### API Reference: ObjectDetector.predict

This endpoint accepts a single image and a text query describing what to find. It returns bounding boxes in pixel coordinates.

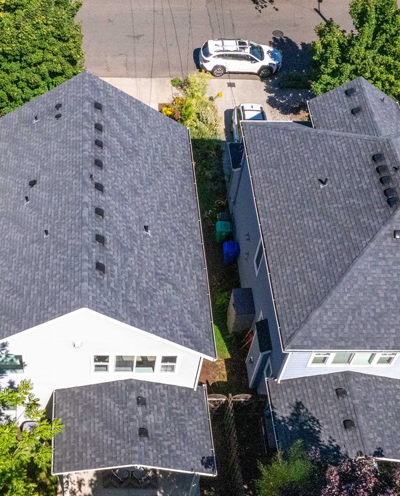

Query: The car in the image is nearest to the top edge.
[200,34,286,76]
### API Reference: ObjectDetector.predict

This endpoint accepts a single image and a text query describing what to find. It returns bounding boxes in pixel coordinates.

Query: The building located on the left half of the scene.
[0,70,219,496]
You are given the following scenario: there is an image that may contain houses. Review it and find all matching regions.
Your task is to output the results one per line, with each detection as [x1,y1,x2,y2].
[228,75,400,485]
[0,70,219,496]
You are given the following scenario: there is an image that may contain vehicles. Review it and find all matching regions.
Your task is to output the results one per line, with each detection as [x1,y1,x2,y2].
[229,108,266,152]
[200,34,286,76]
